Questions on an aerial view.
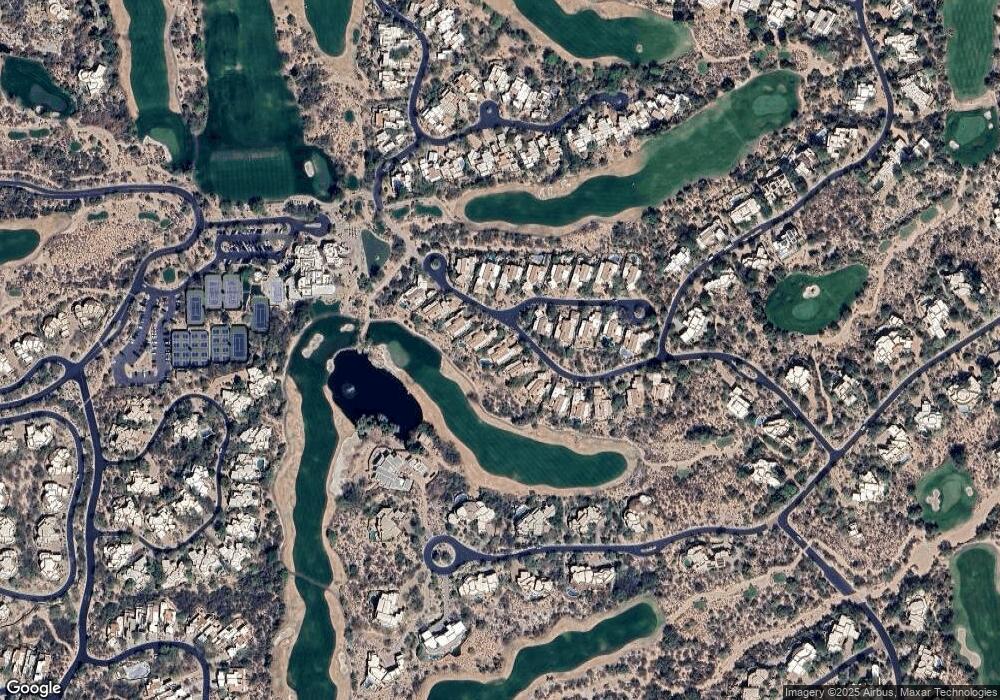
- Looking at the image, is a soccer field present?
No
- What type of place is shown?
residential area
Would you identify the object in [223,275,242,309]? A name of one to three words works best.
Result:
tennis court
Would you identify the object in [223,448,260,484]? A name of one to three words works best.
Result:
house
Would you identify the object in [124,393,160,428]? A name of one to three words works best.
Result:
house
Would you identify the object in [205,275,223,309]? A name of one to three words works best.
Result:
tennis court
